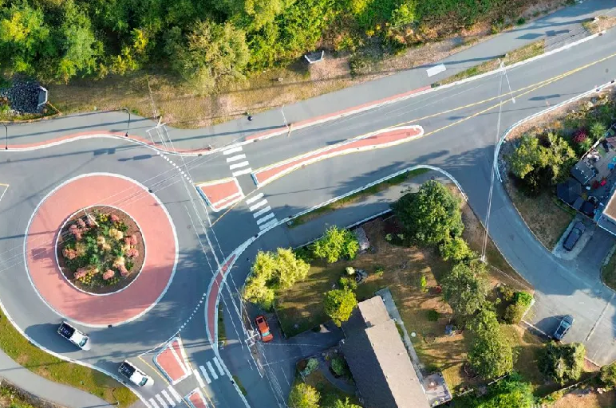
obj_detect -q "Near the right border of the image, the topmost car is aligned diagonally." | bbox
[564,221,587,251]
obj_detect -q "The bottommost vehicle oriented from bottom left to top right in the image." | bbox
[552,314,575,341]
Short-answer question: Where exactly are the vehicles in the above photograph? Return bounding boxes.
[564,221,587,251]
[254,314,272,343]
[56,320,91,351]
[117,359,153,387]
[552,314,575,341]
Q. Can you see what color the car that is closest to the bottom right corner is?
blue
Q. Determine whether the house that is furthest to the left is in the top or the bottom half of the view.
bottom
